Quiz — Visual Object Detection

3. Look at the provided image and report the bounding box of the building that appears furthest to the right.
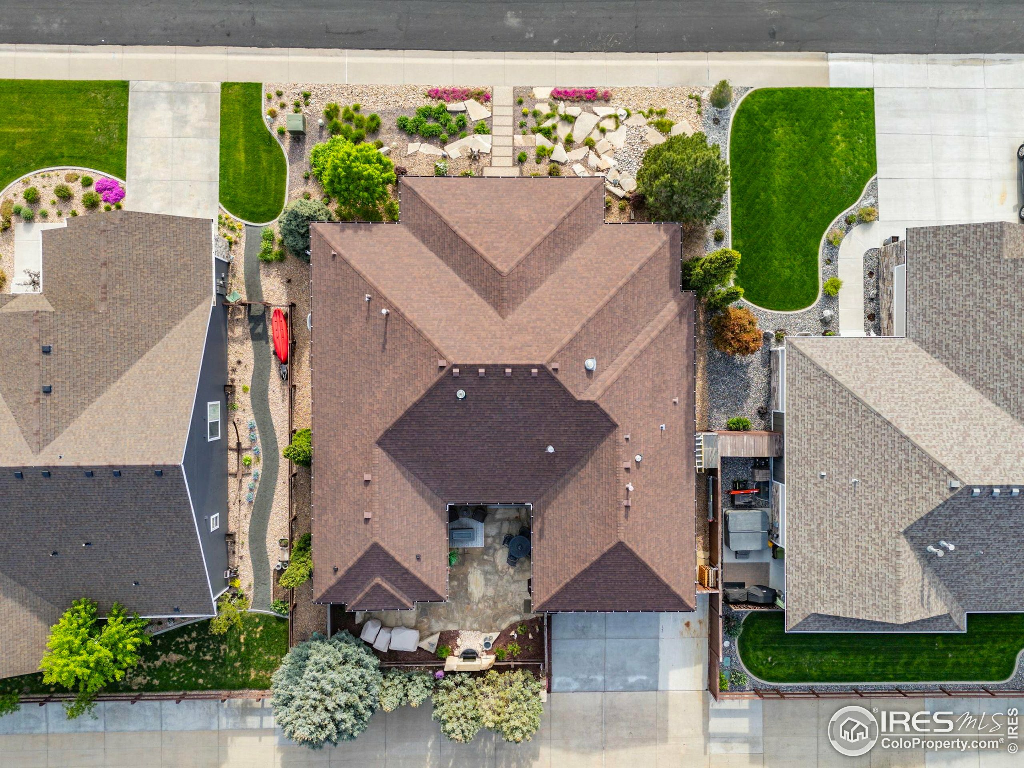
[769,221,1024,635]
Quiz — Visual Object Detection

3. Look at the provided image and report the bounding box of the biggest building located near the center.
[305,173,699,615]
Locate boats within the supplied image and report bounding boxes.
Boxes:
[272,309,288,363]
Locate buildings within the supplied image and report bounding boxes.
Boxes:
[769,221,1024,635]
[305,173,699,615]
[0,211,241,675]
